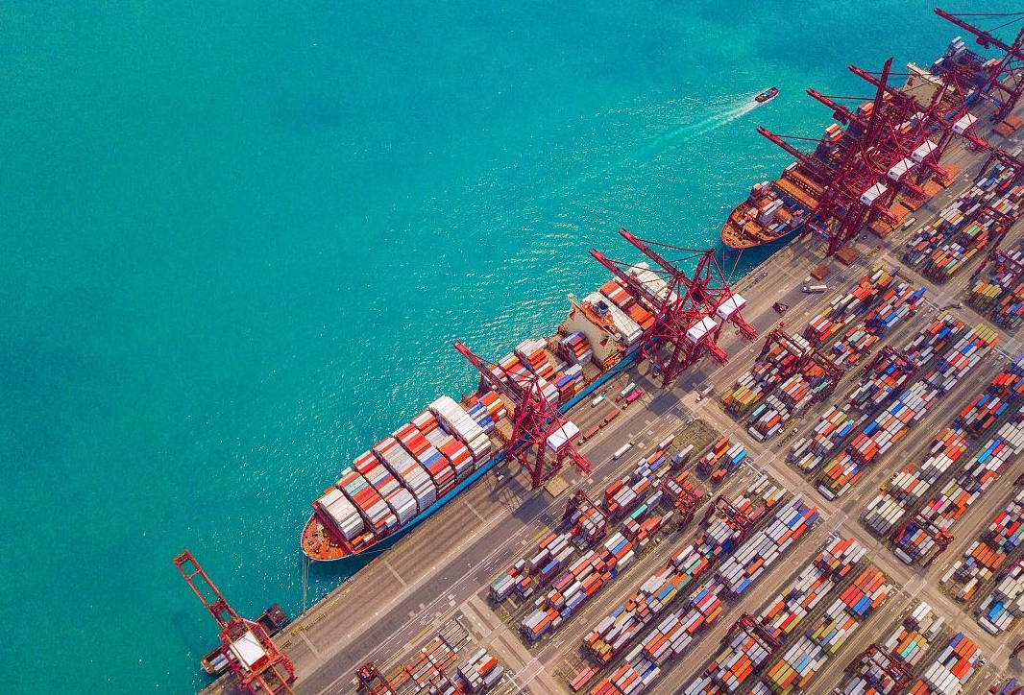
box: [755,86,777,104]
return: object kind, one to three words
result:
boat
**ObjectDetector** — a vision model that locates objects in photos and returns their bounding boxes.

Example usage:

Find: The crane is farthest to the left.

[166,551,299,695]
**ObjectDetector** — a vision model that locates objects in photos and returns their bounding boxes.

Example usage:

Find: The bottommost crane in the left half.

[358,664,399,695]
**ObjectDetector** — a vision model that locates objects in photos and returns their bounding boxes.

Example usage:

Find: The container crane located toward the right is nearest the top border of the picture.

[937,13,1024,113]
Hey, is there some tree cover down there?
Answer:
No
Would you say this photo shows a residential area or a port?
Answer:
port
